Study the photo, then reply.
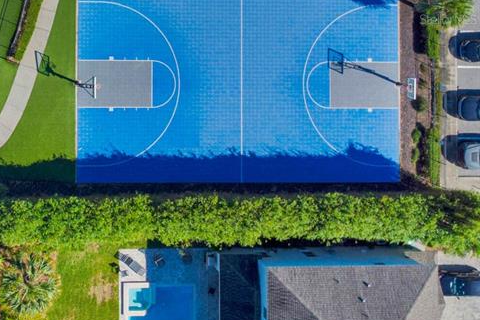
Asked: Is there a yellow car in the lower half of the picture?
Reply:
No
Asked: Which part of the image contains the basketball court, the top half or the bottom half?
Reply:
top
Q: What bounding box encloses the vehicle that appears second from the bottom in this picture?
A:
[460,143,480,168]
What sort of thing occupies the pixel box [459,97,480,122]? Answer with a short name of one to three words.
car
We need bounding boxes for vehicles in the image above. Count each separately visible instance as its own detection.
[460,38,480,62]
[441,267,480,298]
[459,97,480,122]
[460,143,480,168]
